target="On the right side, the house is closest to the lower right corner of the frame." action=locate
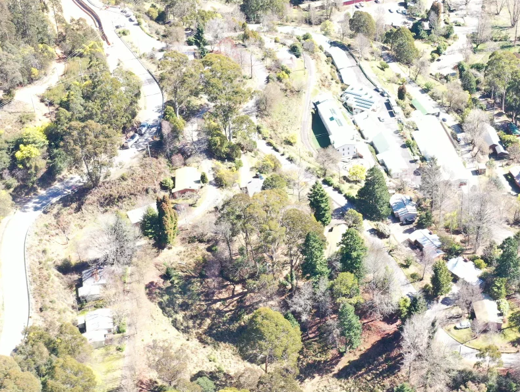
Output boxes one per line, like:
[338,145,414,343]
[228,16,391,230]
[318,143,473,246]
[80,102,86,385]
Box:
[468,298,505,335]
